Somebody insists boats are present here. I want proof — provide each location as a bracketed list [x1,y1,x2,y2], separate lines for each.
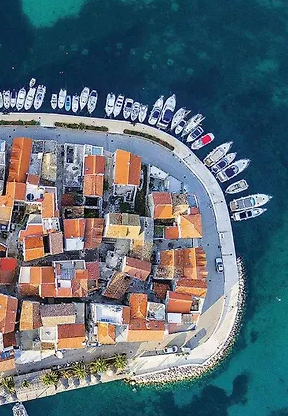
[33,83,45,113]
[79,86,90,110]
[192,131,216,150]
[10,89,16,111]
[174,120,186,136]
[214,158,252,184]
[65,94,71,112]
[131,100,140,123]
[122,96,133,120]
[114,92,124,120]
[224,178,249,195]
[169,107,186,131]
[24,87,36,113]
[105,92,116,118]
[72,94,79,112]
[16,87,26,111]
[3,88,10,111]
[140,102,147,124]
[14,401,28,416]
[88,88,98,117]
[183,124,205,143]
[226,193,274,213]
[51,92,57,113]
[183,113,203,137]
[156,94,176,131]
[228,208,269,222]
[202,141,234,167]
[209,152,237,174]
[146,96,164,127]
[57,87,66,111]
